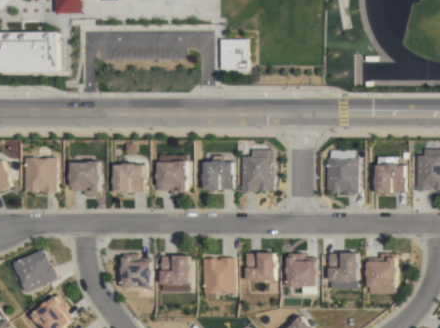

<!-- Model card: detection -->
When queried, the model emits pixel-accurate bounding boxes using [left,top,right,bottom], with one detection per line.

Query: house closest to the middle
[202,155,234,192]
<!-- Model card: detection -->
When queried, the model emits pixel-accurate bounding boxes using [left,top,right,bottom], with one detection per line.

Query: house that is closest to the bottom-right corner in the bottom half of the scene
[366,254,398,294]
